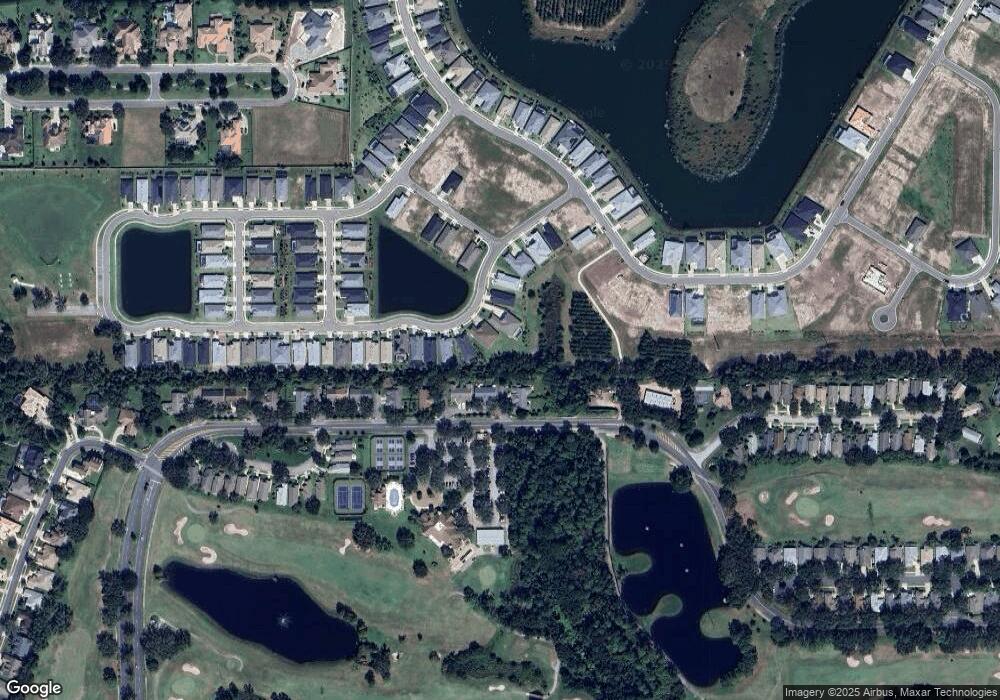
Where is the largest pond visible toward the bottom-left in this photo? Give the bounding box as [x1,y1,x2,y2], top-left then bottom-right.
[163,562,357,662]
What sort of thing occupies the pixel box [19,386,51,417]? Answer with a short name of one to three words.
house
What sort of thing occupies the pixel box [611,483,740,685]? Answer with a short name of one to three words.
pond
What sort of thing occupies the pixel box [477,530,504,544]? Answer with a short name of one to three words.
building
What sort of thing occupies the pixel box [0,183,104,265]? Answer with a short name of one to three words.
sports field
